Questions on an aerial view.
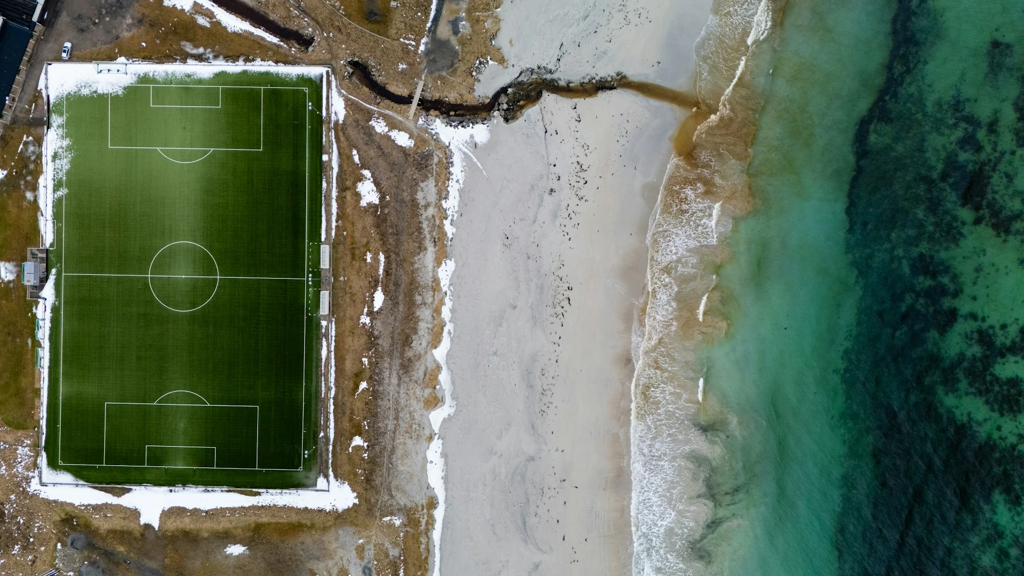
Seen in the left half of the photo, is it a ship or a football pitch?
football pitch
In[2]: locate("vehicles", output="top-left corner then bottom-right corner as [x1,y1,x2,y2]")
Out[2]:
[59,41,71,59]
